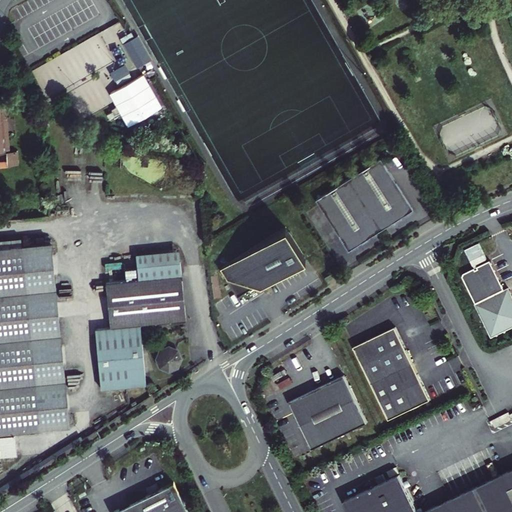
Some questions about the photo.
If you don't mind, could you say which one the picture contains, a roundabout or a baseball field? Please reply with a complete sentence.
I can see a roundabout in this picture.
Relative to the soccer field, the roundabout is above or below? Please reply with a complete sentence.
The roundabout appears below the soccer field in the picture.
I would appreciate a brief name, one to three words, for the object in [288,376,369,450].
building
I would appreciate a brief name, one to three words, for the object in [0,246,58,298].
shed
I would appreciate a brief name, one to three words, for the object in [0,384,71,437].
shed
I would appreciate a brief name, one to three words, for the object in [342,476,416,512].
building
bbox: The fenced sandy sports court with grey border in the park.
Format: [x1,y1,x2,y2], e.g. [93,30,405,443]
[432,98,508,159]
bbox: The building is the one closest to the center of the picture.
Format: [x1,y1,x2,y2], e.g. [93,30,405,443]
[220,238,310,292]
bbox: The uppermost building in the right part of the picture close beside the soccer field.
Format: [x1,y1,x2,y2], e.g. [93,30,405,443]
[317,161,414,252]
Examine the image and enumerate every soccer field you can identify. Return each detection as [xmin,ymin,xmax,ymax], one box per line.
[124,0,380,201]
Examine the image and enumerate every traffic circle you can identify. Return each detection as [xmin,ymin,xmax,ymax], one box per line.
[188,394,248,470]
